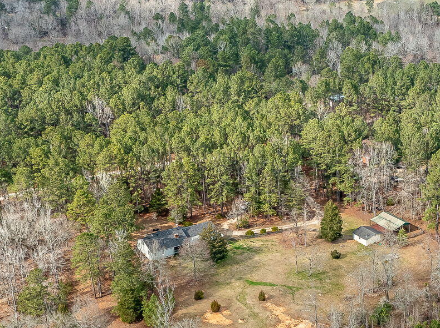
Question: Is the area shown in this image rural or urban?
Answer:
rural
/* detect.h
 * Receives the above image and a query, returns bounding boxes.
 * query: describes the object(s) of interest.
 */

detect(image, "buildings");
[353,225,383,246]
[369,209,412,239]
[137,222,217,260]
